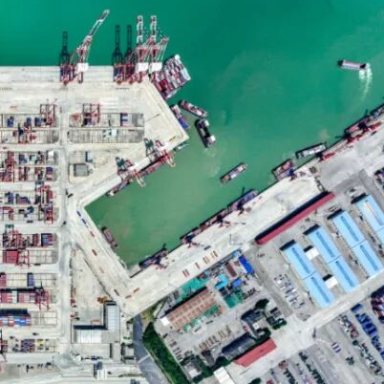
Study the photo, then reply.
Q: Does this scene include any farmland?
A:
No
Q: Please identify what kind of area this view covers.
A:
port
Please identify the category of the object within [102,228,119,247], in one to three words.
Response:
ship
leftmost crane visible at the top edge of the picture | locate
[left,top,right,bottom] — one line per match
[70,7,104,87]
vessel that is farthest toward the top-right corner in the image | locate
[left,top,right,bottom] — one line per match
[335,58,369,71]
